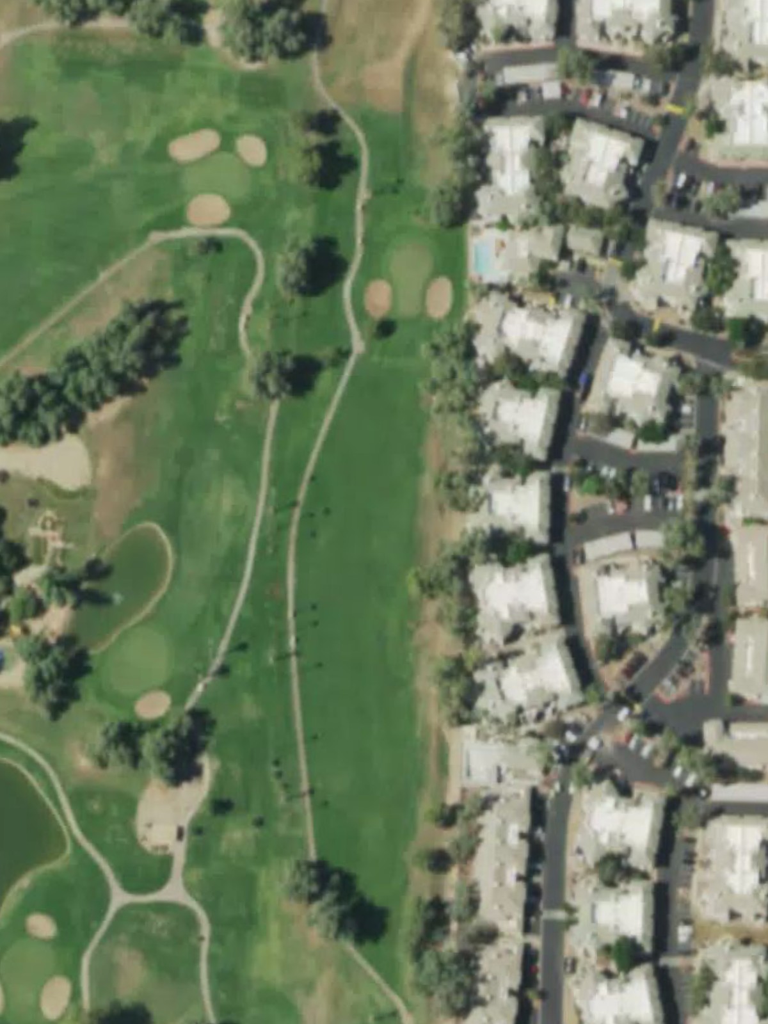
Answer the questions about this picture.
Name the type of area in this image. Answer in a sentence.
It's a golf course.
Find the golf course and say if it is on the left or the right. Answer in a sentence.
The golf course sits on the left side.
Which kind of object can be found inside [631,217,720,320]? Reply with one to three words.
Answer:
building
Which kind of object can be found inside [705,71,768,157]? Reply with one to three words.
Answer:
building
